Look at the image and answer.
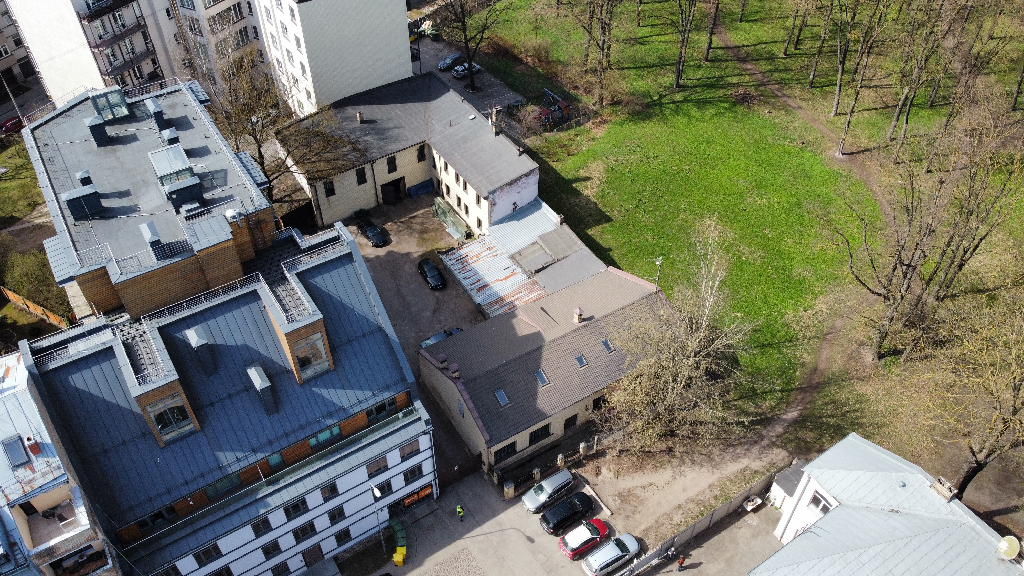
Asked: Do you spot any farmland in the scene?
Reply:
No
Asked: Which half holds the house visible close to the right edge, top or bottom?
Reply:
bottom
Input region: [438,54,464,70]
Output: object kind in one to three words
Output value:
car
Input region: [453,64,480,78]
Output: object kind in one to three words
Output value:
car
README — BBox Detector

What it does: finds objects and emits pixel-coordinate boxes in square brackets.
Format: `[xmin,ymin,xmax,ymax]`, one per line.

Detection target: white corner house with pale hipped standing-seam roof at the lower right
[752,428,1024,576]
